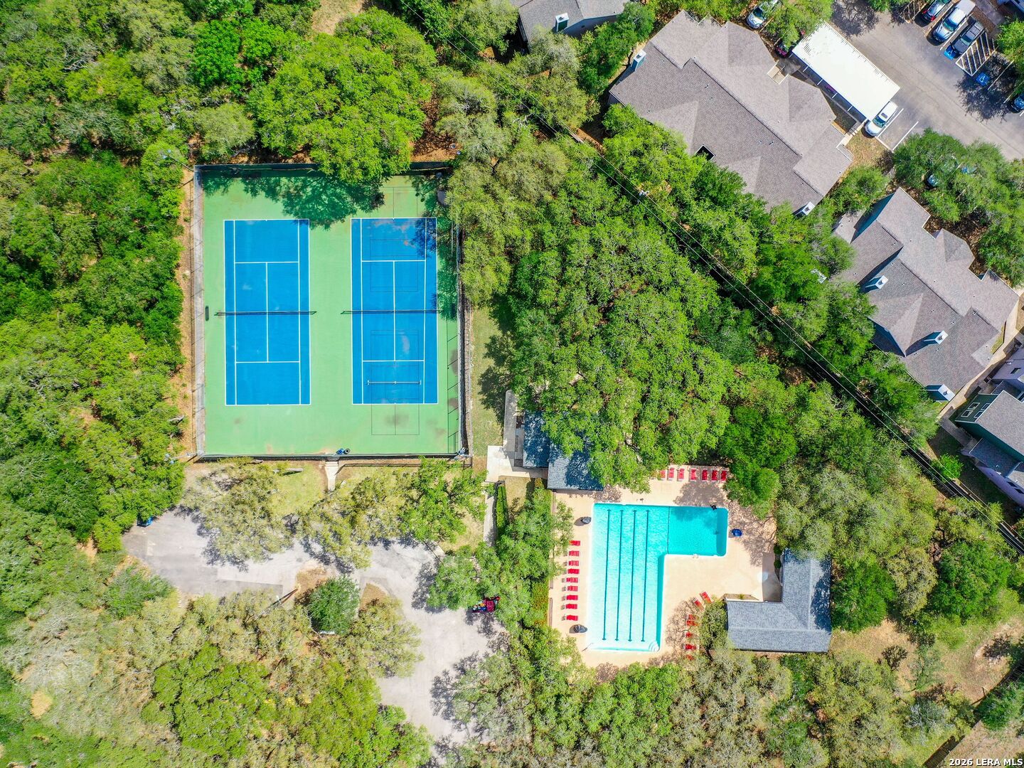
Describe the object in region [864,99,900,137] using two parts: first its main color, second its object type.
white car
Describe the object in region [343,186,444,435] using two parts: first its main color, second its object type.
blue tennis court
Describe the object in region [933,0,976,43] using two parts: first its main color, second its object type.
white truck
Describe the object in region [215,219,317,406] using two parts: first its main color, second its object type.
blue tennis court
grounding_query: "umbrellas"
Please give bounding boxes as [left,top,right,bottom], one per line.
[573,625,589,635]
[578,517,594,526]
[730,527,743,536]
